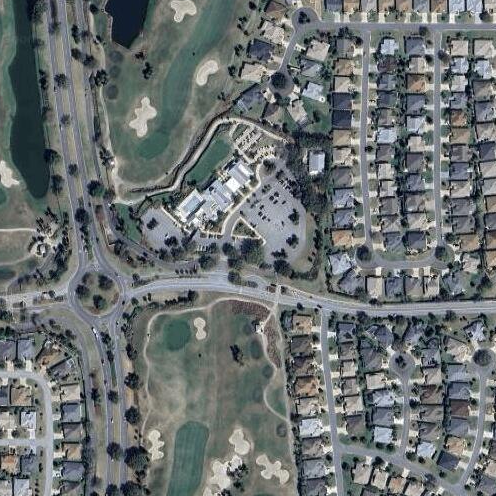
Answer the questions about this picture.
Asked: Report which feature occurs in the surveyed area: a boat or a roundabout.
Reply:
roundabout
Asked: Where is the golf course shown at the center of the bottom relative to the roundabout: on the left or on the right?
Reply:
right of it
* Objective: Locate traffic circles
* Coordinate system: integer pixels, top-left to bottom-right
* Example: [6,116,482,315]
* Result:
[67,264,126,322]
